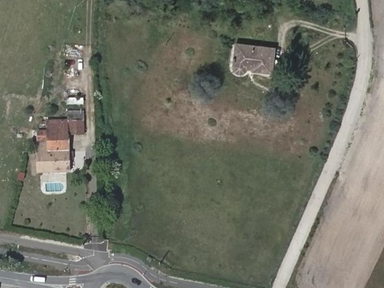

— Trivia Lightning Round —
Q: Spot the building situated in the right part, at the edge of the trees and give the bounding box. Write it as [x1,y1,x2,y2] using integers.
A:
[231,42,276,76]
